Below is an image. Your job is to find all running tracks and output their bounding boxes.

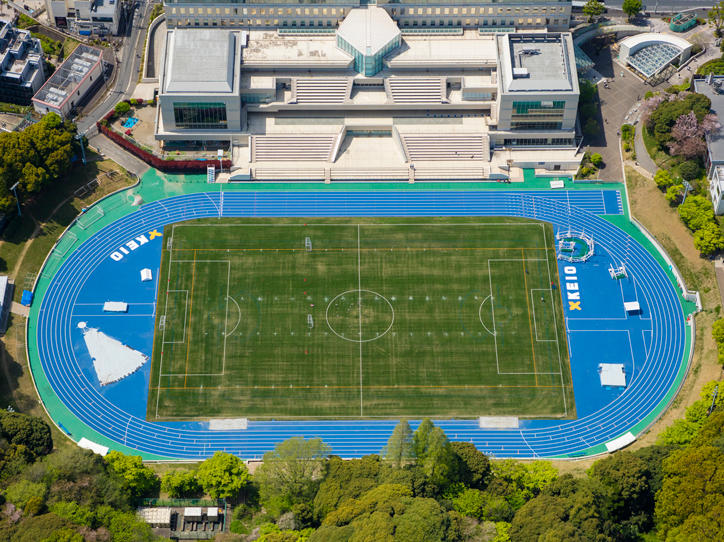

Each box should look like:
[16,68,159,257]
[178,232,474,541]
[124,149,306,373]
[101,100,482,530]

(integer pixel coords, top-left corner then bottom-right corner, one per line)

[28,167,699,459]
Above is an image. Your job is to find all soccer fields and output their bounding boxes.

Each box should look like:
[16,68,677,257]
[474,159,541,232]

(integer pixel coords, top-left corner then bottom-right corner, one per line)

[146,217,577,421]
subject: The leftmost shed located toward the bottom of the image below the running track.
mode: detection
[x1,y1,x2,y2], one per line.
[138,507,171,529]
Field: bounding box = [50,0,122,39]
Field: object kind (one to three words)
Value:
building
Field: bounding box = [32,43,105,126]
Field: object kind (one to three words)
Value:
building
